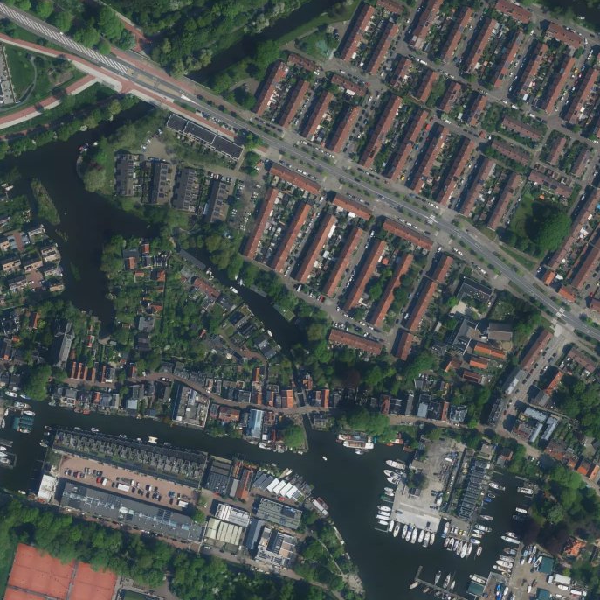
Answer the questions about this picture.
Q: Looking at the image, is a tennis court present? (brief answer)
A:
Yes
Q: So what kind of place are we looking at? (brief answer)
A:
residential area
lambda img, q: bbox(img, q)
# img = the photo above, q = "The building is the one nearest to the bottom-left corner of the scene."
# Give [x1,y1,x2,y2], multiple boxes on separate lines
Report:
[37,475,57,502]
